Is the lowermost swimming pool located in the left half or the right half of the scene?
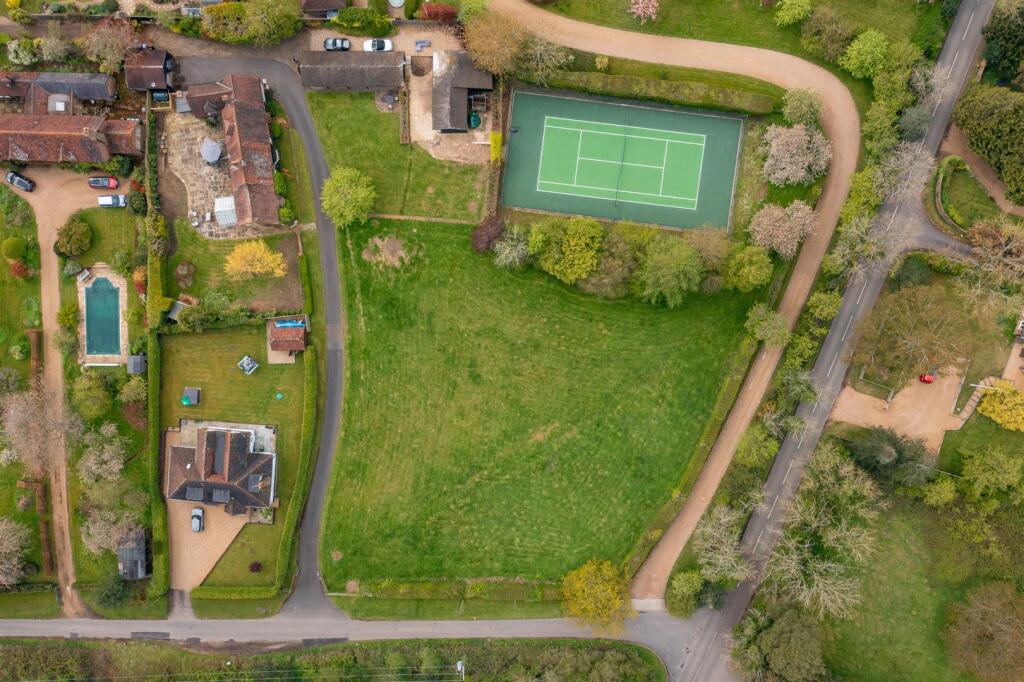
left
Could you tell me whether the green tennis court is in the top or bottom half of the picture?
top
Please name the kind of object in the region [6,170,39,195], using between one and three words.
car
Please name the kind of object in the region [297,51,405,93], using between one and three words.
building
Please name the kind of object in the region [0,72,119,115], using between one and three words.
barn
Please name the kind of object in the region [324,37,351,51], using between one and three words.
car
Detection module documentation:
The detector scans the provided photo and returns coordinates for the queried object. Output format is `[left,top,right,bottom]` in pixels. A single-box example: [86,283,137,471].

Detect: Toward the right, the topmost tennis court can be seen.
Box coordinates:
[499,90,744,234]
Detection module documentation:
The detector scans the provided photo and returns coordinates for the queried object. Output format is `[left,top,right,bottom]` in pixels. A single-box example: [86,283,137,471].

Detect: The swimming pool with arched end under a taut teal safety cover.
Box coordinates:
[78,262,128,364]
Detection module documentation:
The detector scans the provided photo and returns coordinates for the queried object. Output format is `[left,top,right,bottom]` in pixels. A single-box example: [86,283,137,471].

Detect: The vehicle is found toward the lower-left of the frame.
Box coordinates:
[191,506,206,533]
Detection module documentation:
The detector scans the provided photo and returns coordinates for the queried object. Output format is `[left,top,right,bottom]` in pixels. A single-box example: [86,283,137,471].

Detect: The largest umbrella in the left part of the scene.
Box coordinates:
[201,139,223,161]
